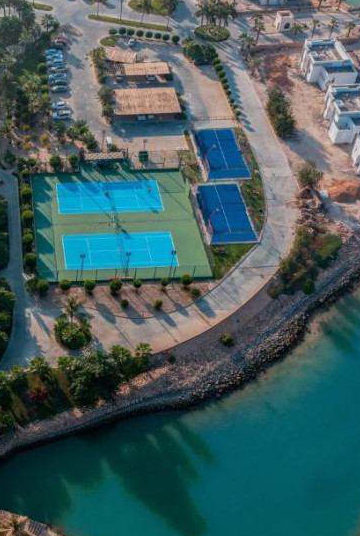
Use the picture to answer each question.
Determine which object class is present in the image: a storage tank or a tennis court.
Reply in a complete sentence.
Looking from above, you can make out a tennis court.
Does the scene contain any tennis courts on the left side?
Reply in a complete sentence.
Yes, looking on the left side, one can make out a tennis court.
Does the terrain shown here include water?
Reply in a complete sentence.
Yes, there is water in the image.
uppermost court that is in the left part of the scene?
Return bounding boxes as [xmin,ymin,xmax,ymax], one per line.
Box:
[56,179,164,214]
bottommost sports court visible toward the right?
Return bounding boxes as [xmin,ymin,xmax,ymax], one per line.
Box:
[194,174,261,245]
